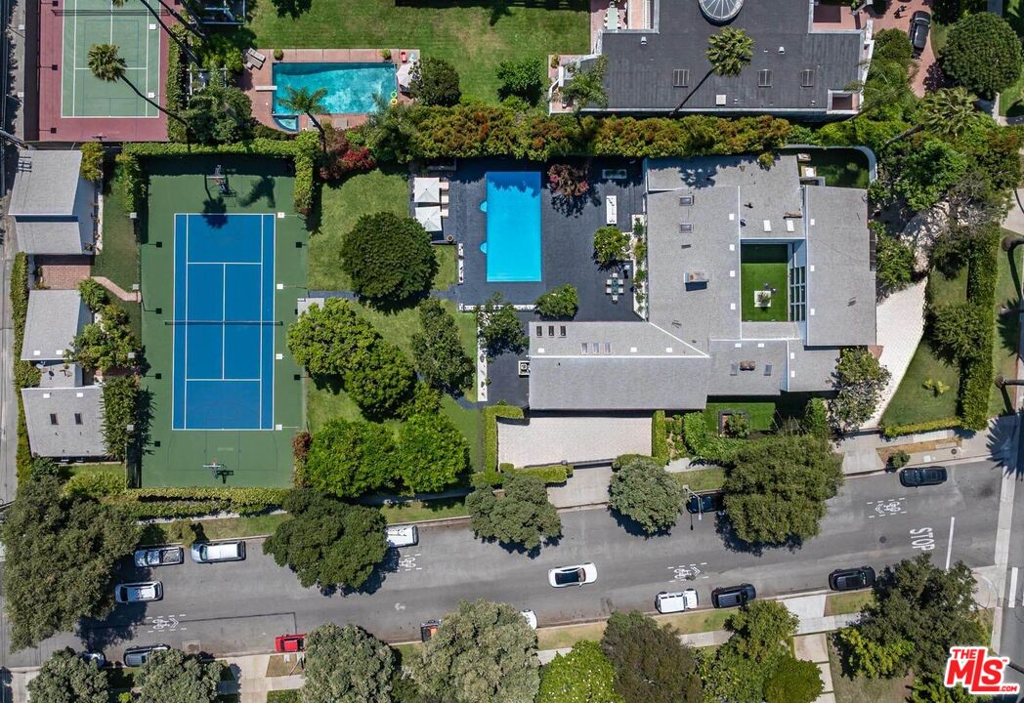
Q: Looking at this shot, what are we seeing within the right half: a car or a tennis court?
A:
car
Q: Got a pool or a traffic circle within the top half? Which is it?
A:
pool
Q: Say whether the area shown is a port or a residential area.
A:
residential area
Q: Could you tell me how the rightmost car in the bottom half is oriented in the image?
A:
from side to side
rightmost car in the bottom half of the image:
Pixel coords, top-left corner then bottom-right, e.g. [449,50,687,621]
[898,464,948,488]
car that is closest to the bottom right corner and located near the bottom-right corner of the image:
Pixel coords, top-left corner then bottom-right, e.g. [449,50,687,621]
[827,565,874,589]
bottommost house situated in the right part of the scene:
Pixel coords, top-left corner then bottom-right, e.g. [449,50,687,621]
[528,156,877,410]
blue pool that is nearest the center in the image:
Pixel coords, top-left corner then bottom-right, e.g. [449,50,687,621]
[480,171,542,283]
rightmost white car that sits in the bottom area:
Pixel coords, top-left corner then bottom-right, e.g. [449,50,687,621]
[653,587,697,613]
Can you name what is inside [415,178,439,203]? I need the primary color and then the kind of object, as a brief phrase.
white umbrella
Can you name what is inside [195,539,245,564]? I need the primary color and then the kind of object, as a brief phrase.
white car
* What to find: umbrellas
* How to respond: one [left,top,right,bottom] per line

[416,206,442,231]
[415,178,439,203]
[390,62,413,85]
